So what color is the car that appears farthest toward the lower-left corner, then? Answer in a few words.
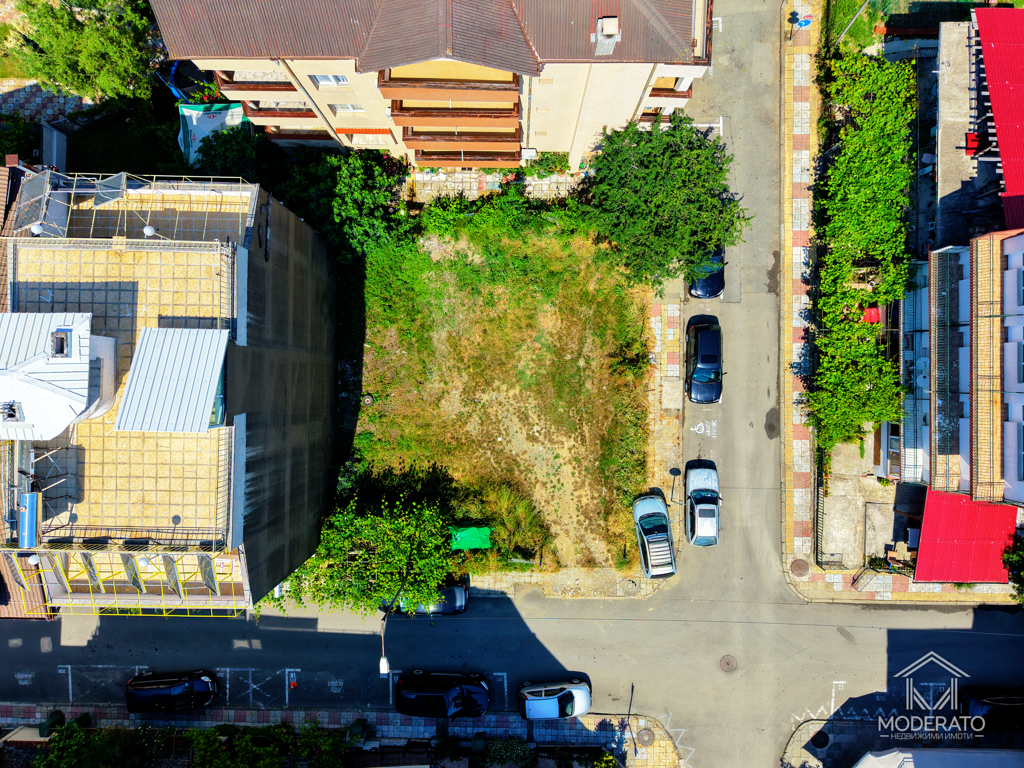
black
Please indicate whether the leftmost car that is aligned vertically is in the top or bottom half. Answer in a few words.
bottom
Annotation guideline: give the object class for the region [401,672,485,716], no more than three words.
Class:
car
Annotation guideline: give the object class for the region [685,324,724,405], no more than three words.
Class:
car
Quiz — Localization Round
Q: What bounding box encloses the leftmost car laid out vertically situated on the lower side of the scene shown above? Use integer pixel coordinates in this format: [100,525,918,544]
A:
[632,494,674,577]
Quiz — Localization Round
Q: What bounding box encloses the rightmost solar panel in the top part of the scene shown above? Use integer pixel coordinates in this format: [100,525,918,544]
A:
[93,172,127,212]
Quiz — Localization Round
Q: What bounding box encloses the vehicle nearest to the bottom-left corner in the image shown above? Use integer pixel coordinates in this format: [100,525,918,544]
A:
[127,667,215,712]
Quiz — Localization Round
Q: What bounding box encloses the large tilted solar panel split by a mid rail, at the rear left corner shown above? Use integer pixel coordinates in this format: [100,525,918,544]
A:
[13,170,51,235]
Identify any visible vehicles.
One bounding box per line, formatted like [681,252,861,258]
[520,679,589,720]
[632,494,674,577]
[685,241,725,304]
[401,672,485,716]
[384,580,463,619]
[683,467,721,547]
[685,324,724,405]
[127,667,215,712]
